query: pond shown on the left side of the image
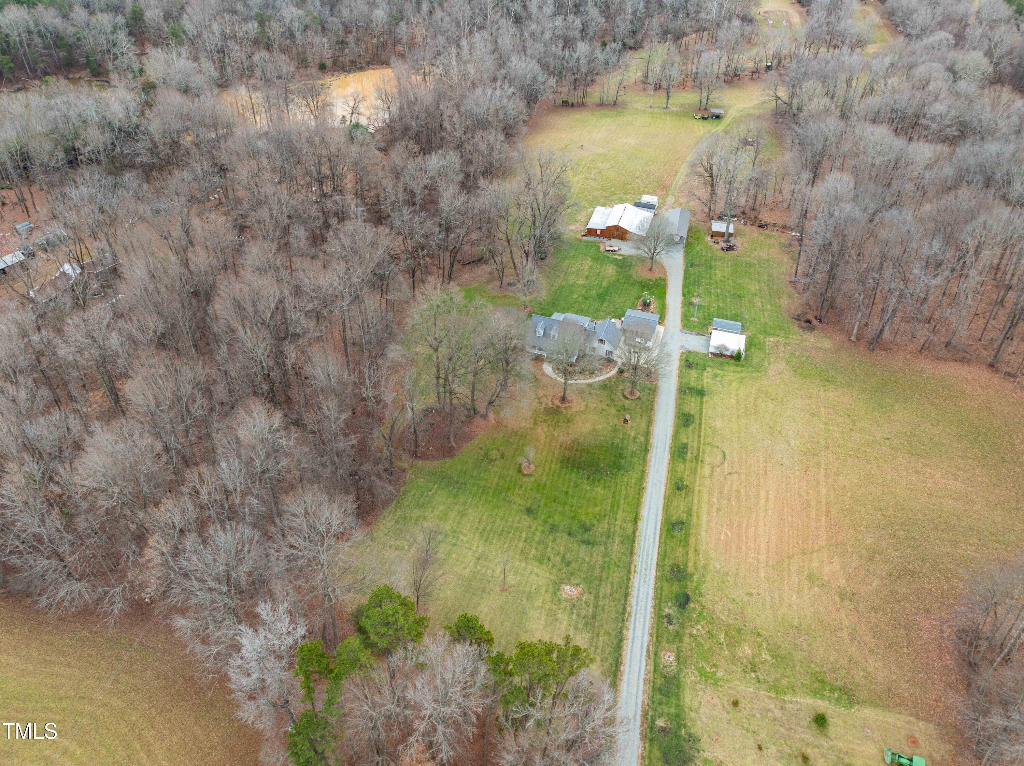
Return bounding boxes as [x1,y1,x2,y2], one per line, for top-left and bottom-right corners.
[176,67,434,143]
